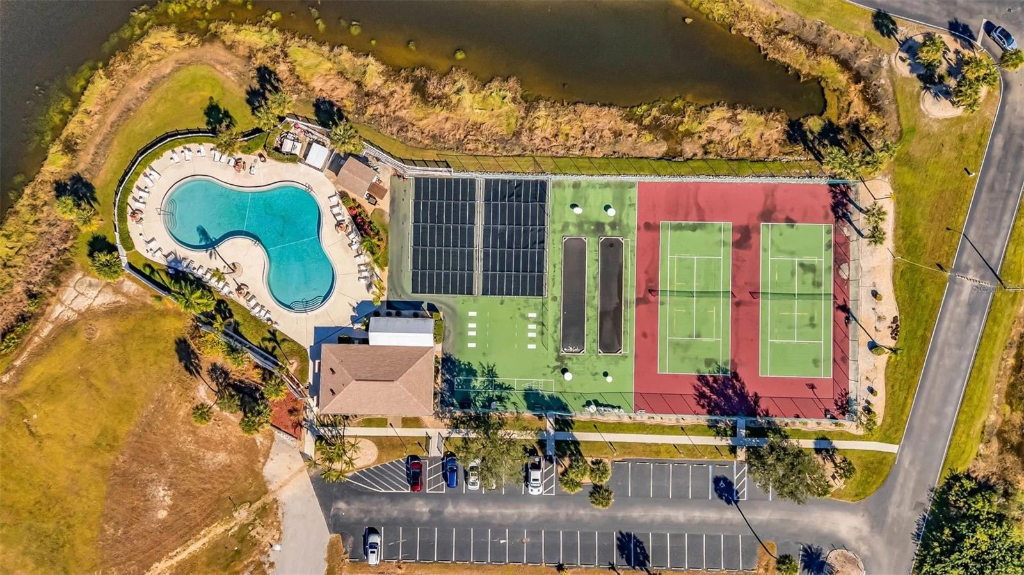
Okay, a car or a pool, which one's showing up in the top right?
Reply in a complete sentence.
It is a car that can be seen in the top right.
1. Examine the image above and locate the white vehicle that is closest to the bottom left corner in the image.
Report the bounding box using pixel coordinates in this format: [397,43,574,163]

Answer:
[365,534,381,567]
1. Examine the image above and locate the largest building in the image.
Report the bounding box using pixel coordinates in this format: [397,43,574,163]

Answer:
[319,343,434,417]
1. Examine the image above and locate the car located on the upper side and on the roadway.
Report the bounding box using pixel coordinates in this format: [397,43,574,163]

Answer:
[988,24,1018,51]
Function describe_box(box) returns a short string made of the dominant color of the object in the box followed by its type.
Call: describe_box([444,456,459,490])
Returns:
blue car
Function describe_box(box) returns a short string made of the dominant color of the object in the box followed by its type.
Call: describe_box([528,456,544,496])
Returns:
white vehicle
